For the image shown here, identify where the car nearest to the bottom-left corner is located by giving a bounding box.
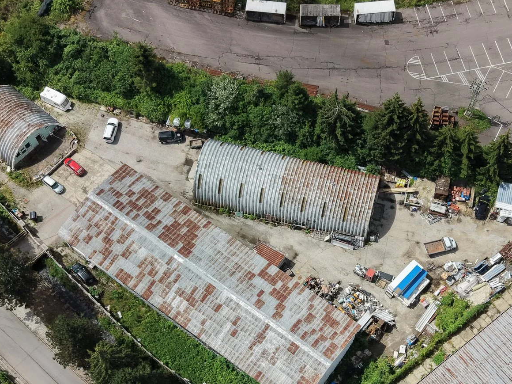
[69,262,96,286]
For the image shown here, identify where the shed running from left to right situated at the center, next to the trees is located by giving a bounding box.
[193,136,382,246]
